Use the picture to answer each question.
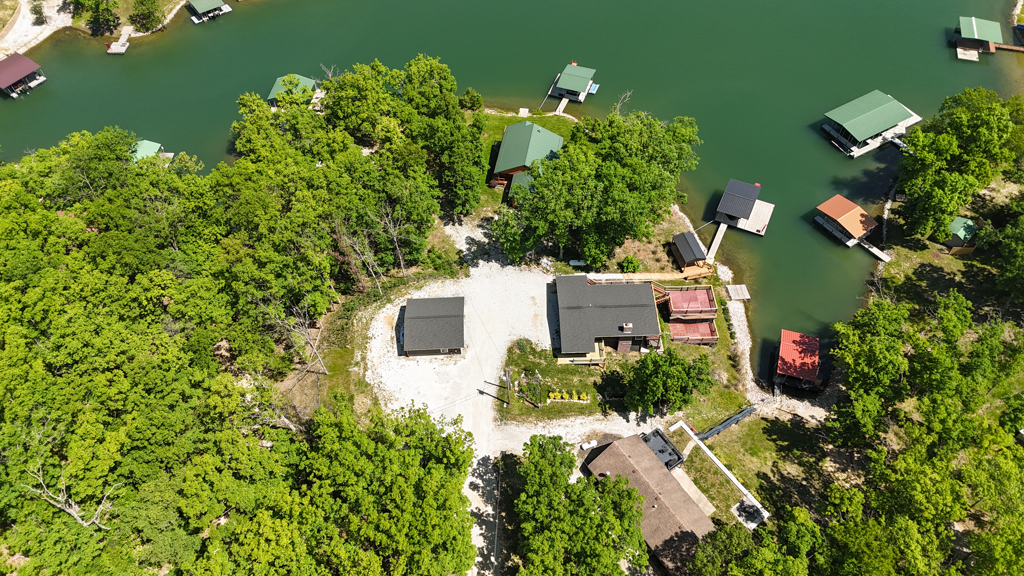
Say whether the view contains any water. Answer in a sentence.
Yes, there's water in this view.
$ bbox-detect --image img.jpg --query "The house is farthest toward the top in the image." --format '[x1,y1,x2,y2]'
[495,118,564,201]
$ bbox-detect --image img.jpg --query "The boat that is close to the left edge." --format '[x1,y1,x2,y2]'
[10,81,32,94]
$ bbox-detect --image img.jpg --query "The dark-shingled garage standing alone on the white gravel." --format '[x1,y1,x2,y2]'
[404,298,465,356]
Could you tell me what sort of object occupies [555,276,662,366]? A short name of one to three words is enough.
house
